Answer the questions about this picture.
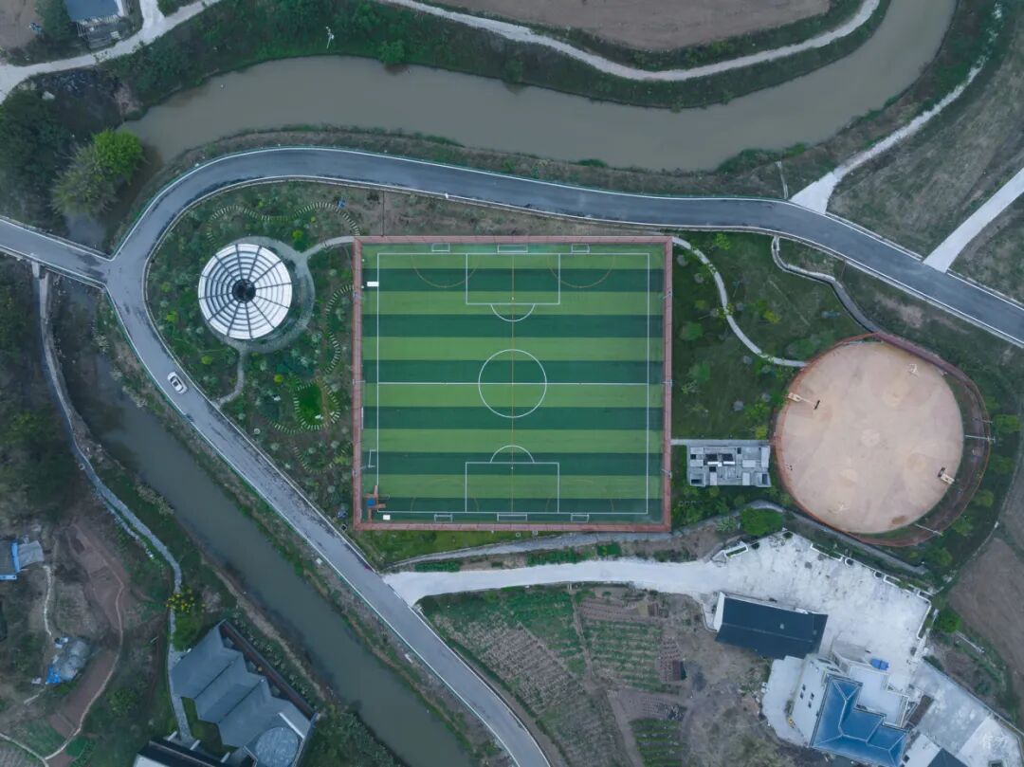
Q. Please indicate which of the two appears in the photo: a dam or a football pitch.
football pitch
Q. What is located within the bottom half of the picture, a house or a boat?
house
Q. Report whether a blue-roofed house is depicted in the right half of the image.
Yes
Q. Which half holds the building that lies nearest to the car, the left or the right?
left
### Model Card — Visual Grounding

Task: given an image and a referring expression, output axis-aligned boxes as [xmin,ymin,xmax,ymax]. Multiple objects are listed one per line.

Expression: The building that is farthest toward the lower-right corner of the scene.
[902,733,969,767]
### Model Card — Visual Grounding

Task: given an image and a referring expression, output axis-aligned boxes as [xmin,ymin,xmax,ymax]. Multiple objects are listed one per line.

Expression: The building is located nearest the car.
[199,243,299,337]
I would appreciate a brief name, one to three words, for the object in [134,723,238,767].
building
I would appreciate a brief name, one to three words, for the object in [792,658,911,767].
house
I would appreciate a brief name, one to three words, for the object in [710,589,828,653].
barn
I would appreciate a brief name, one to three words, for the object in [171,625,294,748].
house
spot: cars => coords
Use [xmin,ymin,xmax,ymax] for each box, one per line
[168,372,187,394]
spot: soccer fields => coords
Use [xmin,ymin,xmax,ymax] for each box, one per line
[360,241,663,525]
